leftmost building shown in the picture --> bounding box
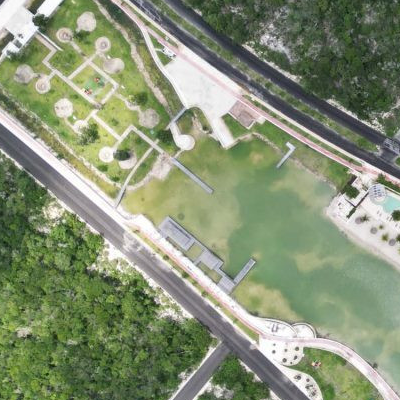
[2,28,41,55]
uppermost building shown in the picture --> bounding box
[37,0,67,18]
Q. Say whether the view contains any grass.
Yes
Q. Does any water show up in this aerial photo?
Yes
